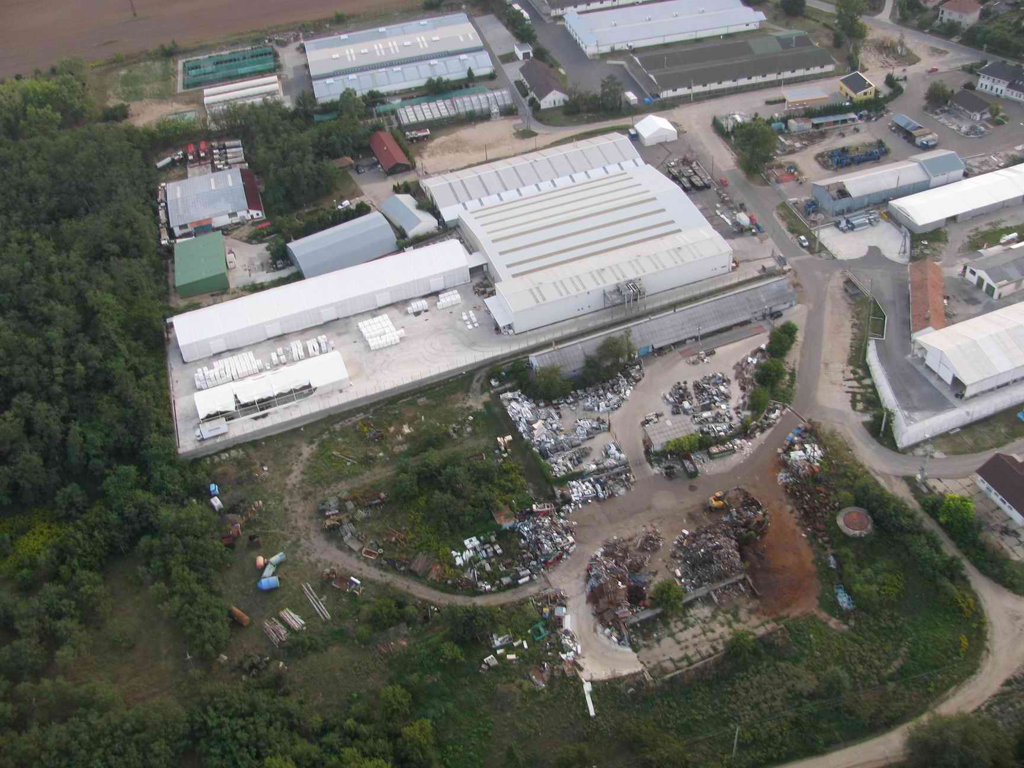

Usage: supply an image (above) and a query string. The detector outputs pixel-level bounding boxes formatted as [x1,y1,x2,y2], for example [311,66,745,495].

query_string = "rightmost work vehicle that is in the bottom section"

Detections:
[706,482,738,512]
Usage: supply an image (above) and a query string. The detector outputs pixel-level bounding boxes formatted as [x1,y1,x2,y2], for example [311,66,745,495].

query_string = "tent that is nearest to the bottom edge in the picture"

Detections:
[195,352,348,425]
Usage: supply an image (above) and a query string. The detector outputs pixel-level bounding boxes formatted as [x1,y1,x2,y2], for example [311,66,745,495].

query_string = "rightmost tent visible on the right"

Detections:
[633,112,676,146]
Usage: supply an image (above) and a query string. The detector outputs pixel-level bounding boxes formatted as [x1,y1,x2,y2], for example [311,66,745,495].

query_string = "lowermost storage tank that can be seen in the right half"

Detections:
[833,506,875,538]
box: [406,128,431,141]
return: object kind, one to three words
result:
vehicle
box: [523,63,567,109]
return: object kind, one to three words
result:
house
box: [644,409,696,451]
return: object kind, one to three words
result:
shed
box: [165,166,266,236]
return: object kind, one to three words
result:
building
